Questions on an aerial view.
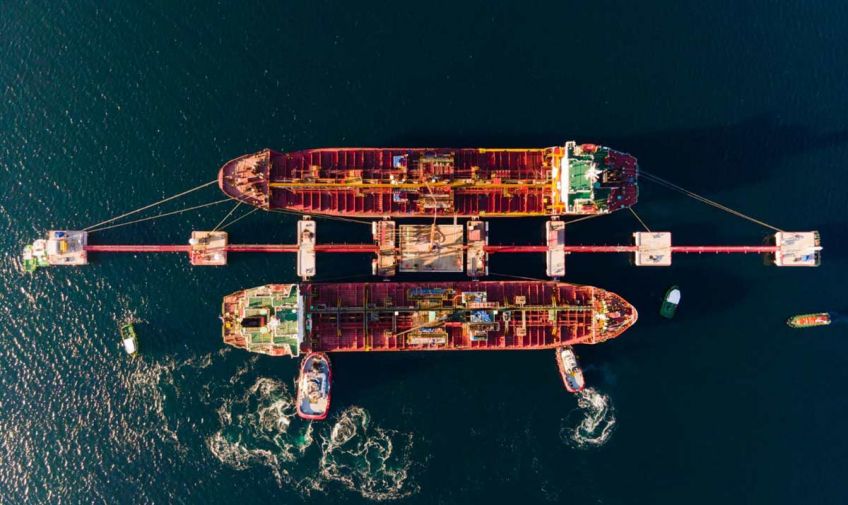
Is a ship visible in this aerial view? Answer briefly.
Yes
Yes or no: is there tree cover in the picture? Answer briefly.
No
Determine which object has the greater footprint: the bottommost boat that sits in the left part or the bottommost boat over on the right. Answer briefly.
the bottommost boat that sits in the left part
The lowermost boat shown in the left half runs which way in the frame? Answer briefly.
vertically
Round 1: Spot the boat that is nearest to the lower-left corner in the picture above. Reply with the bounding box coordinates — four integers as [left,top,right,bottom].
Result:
[120,325,137,356]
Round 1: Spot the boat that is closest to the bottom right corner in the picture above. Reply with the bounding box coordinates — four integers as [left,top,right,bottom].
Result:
[787,311,831,329]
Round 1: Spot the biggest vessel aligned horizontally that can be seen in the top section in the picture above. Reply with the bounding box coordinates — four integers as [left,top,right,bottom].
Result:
[218,143,639,218]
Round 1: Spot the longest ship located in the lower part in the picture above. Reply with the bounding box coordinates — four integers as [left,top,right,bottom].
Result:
[219,281,638,358]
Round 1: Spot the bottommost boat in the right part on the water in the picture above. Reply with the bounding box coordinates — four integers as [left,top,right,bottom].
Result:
[557,346,585,394]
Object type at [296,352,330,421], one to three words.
boat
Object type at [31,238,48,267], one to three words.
boat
